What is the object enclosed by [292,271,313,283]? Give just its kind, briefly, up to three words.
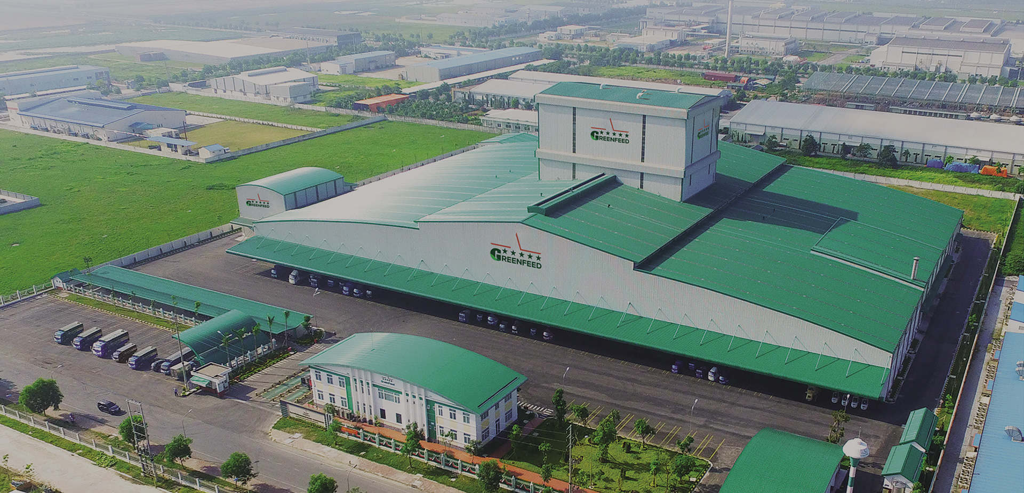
vehicle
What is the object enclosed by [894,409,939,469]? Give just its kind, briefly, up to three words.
shed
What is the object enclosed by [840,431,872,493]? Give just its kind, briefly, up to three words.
water tower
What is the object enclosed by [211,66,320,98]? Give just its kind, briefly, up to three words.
building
